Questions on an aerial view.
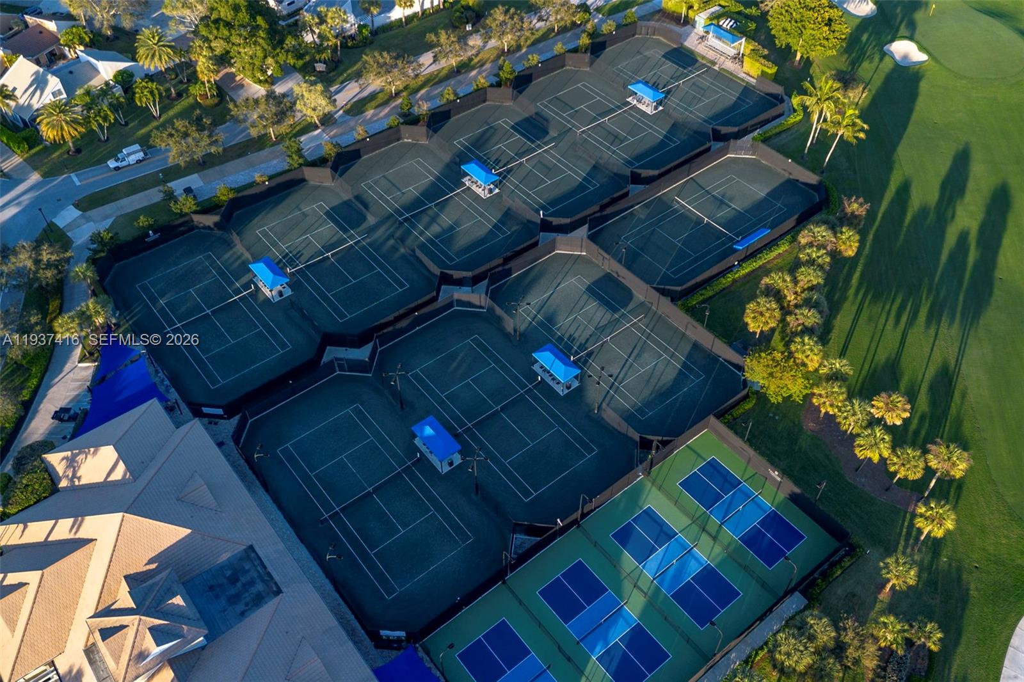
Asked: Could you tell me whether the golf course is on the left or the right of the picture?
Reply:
right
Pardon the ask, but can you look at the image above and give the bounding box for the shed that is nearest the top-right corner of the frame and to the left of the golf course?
[693,6,724,31]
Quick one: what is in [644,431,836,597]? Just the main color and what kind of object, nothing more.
blue sports court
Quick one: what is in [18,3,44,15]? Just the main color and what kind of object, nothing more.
blue vehicle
